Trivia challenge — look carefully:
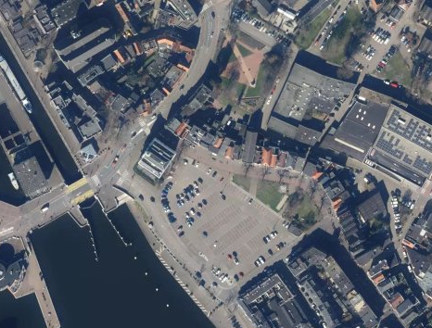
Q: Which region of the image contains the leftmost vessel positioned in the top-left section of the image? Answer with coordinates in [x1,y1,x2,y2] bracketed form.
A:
[0,56,31,112]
